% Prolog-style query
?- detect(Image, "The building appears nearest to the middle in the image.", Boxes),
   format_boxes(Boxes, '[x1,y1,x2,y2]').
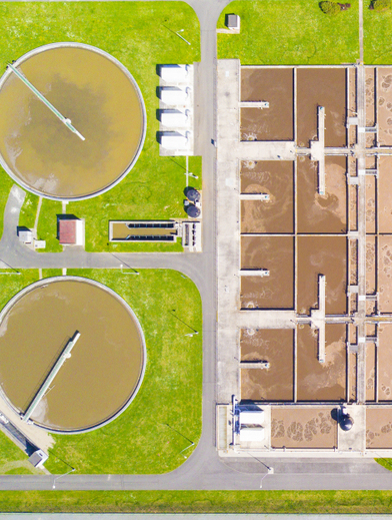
[183,222,202,251]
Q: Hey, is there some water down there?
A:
Yes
